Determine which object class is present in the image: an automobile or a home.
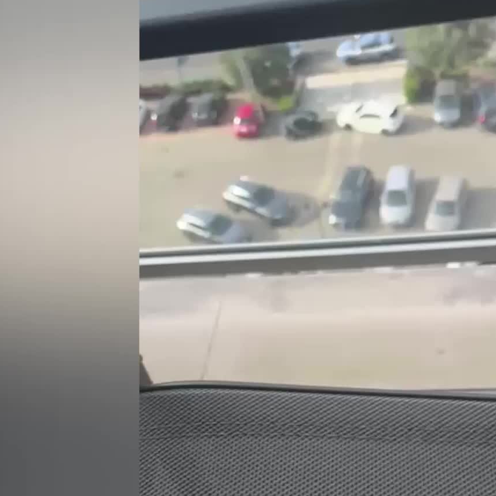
automobile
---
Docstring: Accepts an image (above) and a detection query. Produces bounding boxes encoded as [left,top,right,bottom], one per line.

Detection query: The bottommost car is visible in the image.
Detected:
[171,205,253,245]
